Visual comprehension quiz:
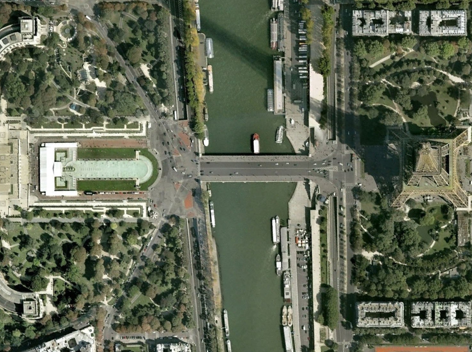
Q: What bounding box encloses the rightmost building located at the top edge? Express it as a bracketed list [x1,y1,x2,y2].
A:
[418,10,467,37]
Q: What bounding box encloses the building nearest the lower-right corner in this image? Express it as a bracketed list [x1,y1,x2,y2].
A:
[411,302,471,328]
